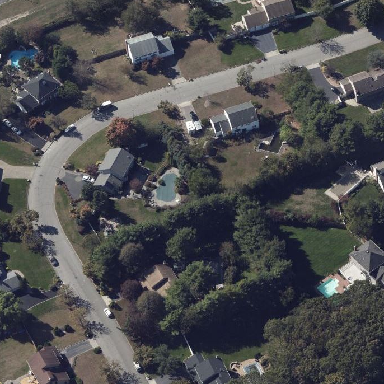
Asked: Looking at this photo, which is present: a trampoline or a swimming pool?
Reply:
swimming pool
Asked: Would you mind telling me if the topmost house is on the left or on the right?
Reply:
right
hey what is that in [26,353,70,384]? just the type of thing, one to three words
house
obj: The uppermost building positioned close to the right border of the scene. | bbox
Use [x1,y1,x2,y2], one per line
[338,67,384,102]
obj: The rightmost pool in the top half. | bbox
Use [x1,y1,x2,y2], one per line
[260,128,282,154]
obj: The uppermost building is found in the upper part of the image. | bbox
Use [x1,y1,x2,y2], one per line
[240,0,295,37]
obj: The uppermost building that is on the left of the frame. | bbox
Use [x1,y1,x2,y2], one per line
[125,34,174,66]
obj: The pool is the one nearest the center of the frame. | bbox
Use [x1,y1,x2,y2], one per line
[156,172,177,201]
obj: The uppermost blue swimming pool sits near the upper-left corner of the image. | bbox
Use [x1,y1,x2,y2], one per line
[9,49,39,67]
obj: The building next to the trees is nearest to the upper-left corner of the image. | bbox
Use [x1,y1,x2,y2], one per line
[15,70,61,118]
